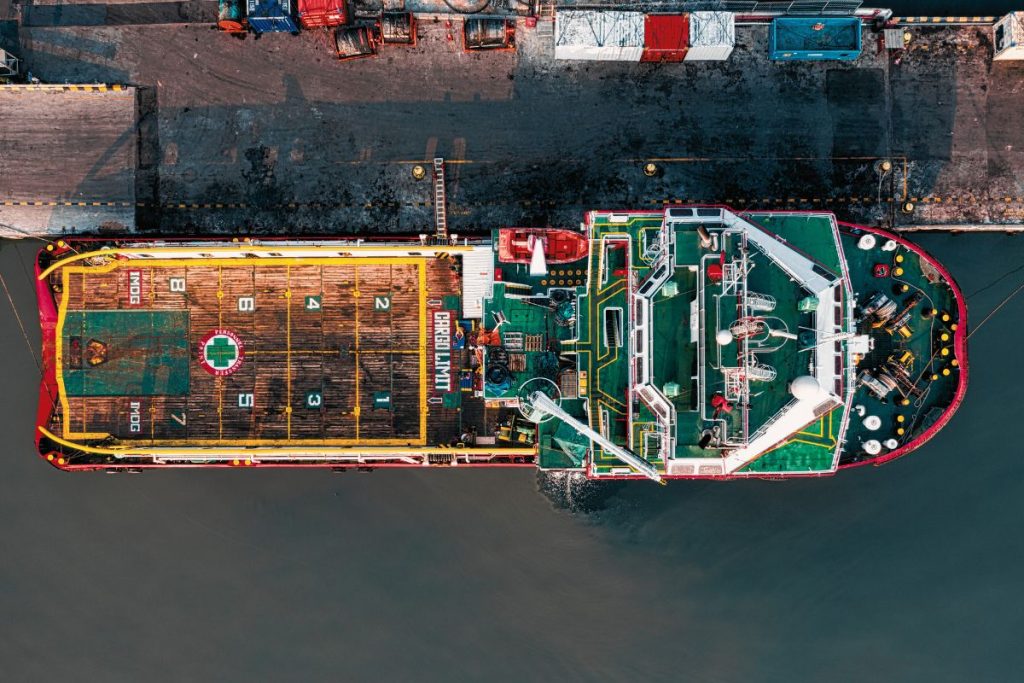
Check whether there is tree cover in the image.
No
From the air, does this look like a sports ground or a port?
port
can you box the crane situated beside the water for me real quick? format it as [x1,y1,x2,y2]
[519,374,669,488]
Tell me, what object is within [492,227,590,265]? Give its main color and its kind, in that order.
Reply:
red boat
